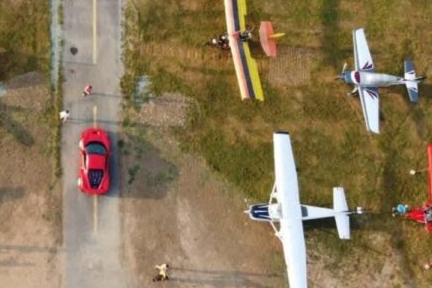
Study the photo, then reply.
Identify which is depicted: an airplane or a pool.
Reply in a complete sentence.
The image shows an airplane.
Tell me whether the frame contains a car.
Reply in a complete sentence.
Yes, a car appears in the view.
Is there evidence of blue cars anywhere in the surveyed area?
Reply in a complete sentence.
No, no blue car can be seen from above.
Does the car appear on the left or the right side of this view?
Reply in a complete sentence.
The car appears in the left half of the scene.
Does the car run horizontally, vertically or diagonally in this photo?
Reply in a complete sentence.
What the image shows is the car lying vertically.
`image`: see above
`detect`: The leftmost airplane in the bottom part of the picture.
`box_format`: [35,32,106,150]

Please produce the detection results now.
[243,132,369,288]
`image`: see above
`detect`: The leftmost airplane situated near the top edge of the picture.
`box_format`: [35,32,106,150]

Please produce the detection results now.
[202,0,289,99]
